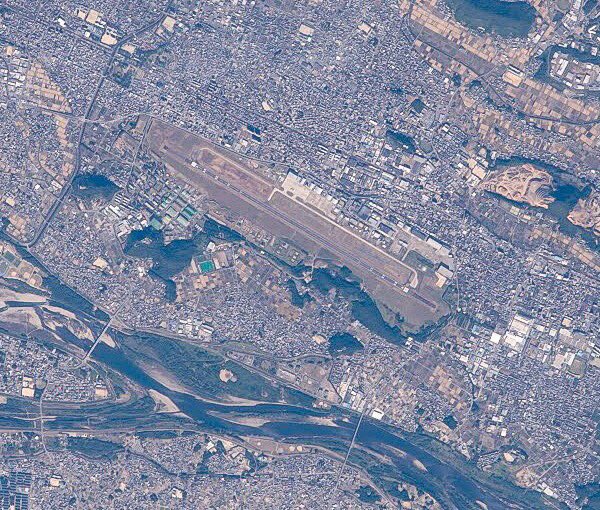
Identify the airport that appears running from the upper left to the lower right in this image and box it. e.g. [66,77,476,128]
[147,117,460,331]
